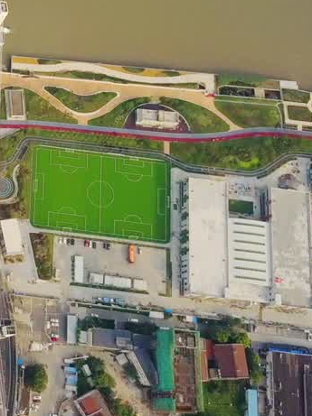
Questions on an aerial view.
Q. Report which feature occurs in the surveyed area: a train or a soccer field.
soccer field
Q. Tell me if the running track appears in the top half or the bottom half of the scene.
top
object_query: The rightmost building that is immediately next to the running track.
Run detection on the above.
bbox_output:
[263,188,312,309]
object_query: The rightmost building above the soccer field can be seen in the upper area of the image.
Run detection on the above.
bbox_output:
[155,109,180,131]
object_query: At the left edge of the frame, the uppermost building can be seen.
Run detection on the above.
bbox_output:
[3,89,27,121]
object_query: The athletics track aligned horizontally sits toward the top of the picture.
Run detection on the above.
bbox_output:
[0,121,312,142]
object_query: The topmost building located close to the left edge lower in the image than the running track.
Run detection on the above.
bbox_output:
[0,219,26,257]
